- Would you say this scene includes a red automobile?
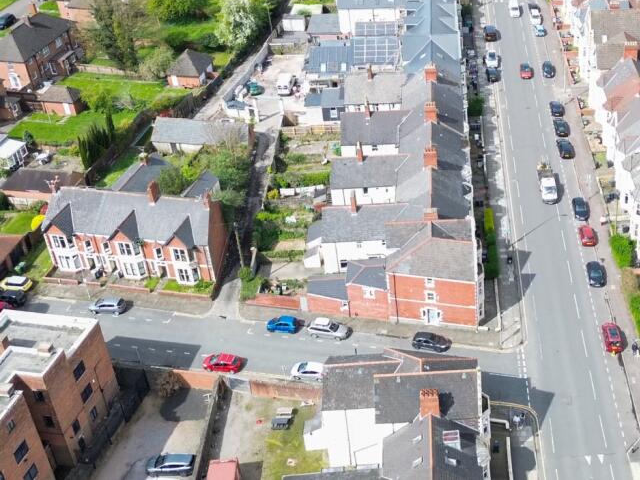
Yes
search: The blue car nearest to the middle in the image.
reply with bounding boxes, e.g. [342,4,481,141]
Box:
[262,315,303,335]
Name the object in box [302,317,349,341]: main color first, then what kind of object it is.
white car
